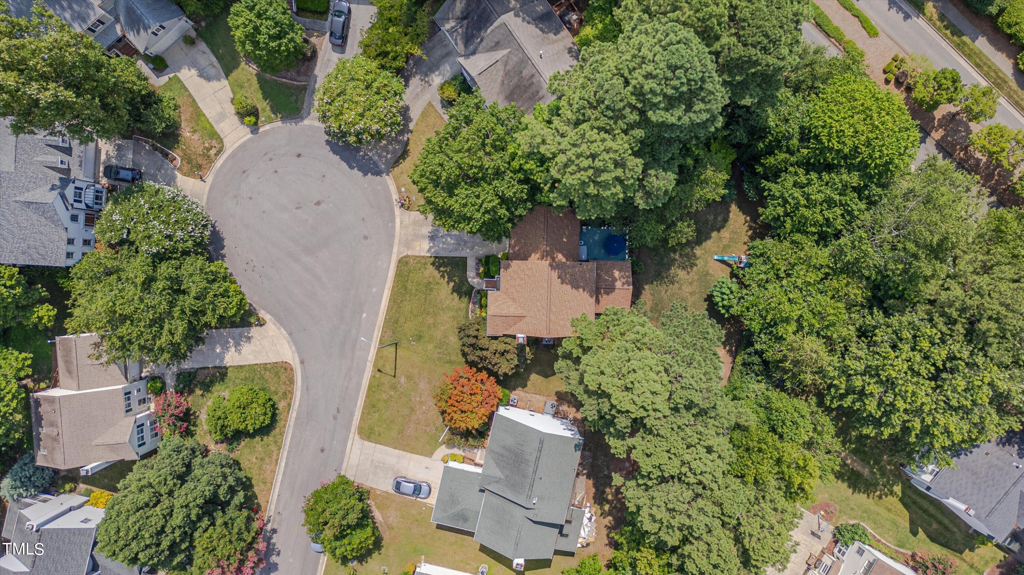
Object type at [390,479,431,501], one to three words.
car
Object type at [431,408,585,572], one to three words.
house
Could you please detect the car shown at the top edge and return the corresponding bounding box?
[328,1,349,44]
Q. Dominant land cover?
trees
